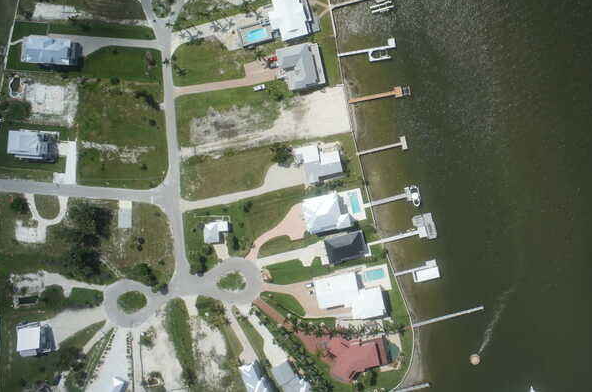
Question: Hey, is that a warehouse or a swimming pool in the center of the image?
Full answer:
What appears in the center of the image is a swimming pool.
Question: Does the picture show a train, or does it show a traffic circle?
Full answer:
I can see a traffic circle in this picture.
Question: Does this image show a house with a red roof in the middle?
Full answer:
No, in the middle there is no house with a red roof.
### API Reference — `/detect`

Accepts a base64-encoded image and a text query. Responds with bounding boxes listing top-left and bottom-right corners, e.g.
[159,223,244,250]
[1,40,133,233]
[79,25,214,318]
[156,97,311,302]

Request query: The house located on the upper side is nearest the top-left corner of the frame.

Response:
[19,35,85,66]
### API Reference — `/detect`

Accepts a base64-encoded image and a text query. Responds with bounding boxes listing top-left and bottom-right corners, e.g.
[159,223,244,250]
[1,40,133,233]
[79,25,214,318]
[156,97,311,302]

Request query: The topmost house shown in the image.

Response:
[268,0,320,41]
